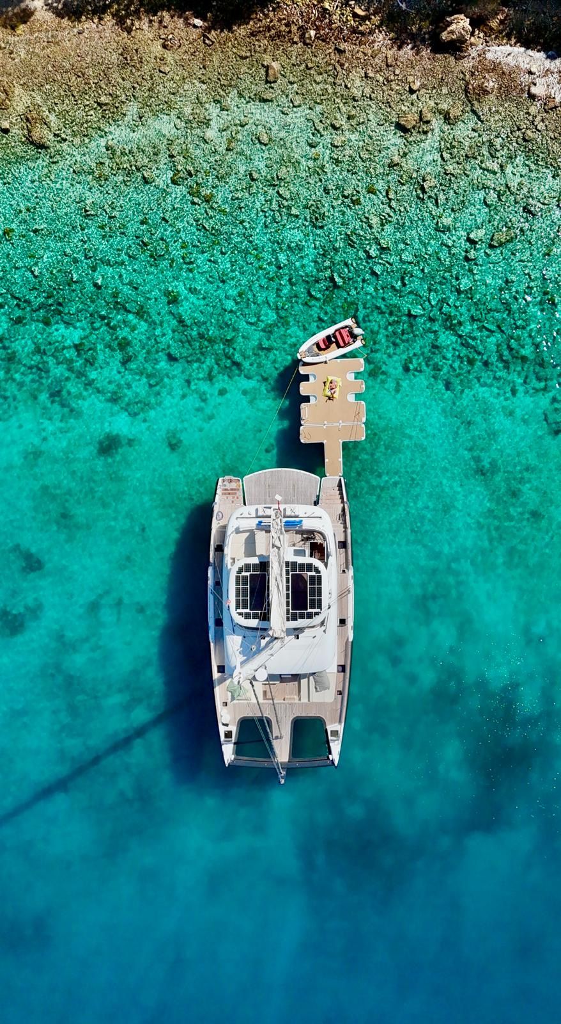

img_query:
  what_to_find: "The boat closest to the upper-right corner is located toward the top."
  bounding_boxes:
[295,319,366,363]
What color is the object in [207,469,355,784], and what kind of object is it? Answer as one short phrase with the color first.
white boat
